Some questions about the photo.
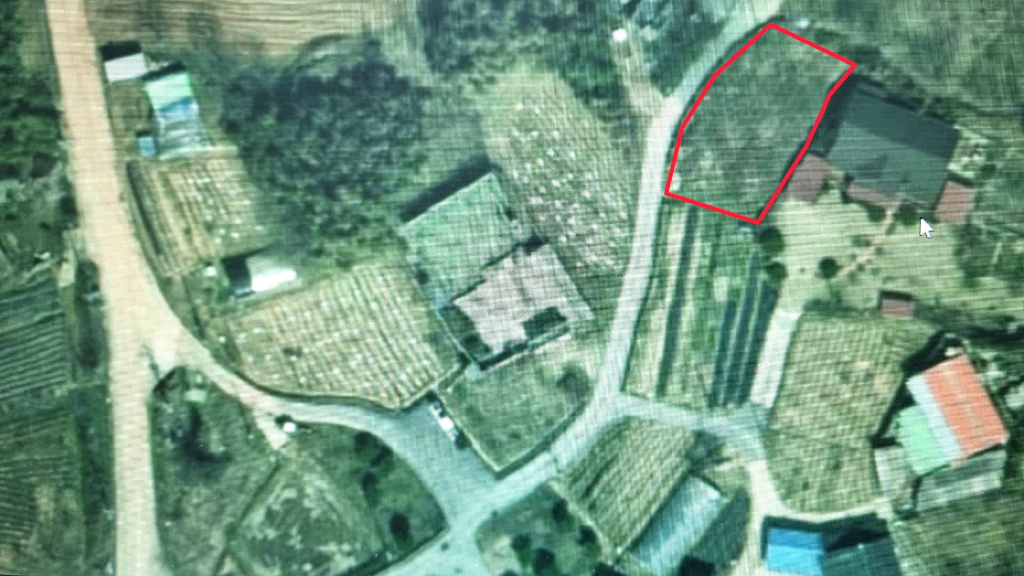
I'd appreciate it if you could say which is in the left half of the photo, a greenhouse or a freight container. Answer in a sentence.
What appears in the left half of the photo is a greenhouse.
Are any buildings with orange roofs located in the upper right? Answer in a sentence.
No, there's no building with an orange roof to be seen in the upper right.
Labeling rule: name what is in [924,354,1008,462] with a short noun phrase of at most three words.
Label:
barn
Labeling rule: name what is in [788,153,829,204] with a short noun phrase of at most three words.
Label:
shed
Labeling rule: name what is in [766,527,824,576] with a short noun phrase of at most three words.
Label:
house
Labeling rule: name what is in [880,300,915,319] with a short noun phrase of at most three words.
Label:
shed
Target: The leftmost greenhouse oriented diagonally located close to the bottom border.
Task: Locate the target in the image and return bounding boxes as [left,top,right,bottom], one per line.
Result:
[624,475,725,576]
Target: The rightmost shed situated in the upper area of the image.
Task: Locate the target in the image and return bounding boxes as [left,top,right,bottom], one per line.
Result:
[935,180,975,226]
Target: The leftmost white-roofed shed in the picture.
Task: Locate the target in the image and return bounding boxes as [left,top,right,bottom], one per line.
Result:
[104,52,148,83]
